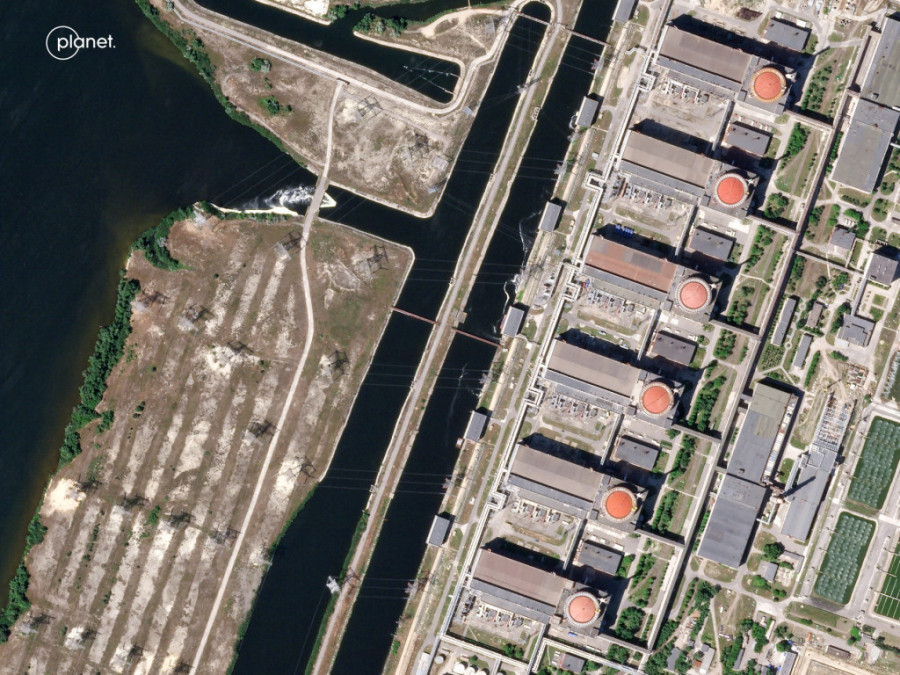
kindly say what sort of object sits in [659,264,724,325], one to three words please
building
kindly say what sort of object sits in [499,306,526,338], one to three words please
building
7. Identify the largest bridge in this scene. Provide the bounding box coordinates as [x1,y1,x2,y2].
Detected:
[301,173,328,234]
